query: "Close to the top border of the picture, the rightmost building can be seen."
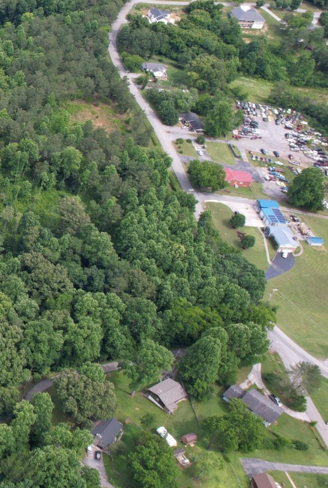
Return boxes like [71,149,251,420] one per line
[227,10,268,33]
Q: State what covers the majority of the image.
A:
trees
